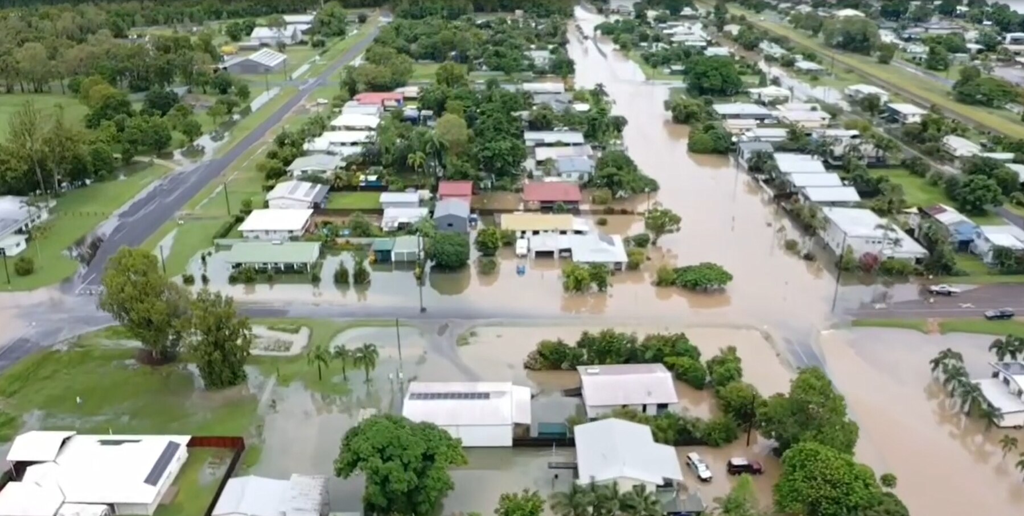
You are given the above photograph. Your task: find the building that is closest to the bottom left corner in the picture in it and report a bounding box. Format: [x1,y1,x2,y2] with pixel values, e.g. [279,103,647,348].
[0,427,198,516]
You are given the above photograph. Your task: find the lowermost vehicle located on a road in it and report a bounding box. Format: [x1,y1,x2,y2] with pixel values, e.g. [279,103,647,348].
[983,306,1017,319]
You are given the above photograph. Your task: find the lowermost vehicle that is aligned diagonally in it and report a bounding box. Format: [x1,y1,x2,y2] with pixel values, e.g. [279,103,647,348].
[683,450,717,480]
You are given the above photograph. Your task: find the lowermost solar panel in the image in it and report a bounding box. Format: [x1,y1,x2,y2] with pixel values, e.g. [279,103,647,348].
[150,444,185,484]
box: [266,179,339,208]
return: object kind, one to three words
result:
house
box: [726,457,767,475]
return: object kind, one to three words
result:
car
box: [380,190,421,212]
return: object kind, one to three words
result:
shed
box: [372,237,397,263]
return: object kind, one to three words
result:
shed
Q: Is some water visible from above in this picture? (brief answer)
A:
Yes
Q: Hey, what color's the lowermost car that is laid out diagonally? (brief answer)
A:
white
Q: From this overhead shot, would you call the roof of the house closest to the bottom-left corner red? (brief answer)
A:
No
